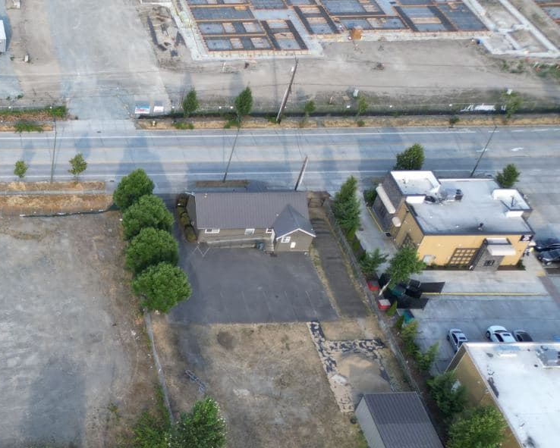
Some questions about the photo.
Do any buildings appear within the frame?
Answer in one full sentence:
Yes, the photo shows a building.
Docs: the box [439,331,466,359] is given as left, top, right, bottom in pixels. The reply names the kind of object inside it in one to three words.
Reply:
car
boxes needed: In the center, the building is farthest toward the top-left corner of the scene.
[190,188,319,251]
